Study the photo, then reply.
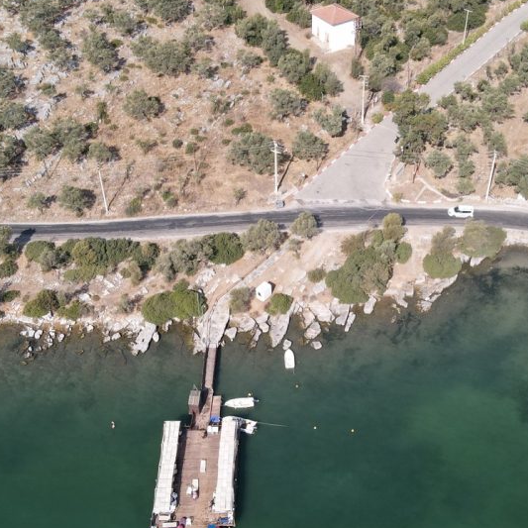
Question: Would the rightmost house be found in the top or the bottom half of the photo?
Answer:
top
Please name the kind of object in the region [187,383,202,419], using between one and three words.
building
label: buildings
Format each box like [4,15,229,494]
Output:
[304,6,357,56]
[187,383,202,419]
[253,281,272,303]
